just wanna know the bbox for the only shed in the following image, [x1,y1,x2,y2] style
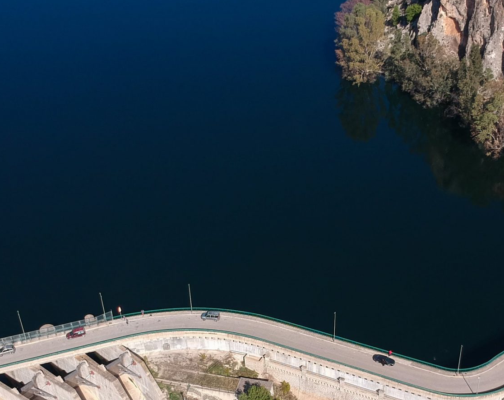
[236,376,274,400]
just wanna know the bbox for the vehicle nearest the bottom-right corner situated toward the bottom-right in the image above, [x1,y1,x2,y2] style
[373,352,395,366]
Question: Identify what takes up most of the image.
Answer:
water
